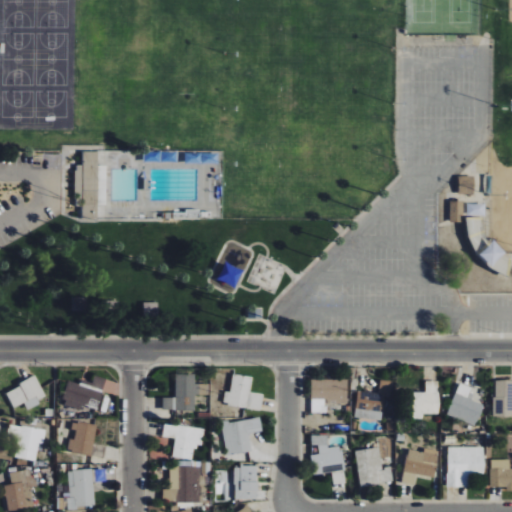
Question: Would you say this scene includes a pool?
Yes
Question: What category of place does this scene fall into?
sports ground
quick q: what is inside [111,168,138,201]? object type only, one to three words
swimming pool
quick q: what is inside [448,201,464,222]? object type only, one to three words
shed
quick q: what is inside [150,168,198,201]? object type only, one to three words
swimming pool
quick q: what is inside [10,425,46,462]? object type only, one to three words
house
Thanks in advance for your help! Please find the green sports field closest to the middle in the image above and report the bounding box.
[62,0,404,224]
